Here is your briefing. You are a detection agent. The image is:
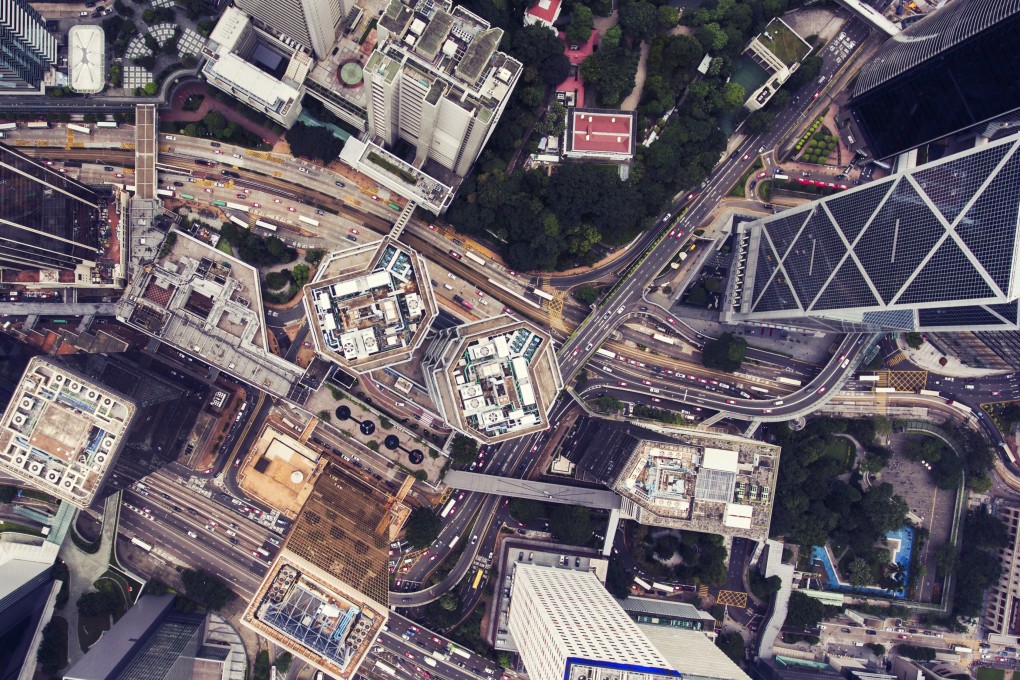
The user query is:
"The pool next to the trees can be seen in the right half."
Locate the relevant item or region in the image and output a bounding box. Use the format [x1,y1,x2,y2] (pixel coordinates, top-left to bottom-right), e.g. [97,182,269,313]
[810,528,916,599]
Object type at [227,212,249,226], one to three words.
vehicle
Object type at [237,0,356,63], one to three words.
building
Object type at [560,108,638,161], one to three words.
house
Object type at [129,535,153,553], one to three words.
vehicle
